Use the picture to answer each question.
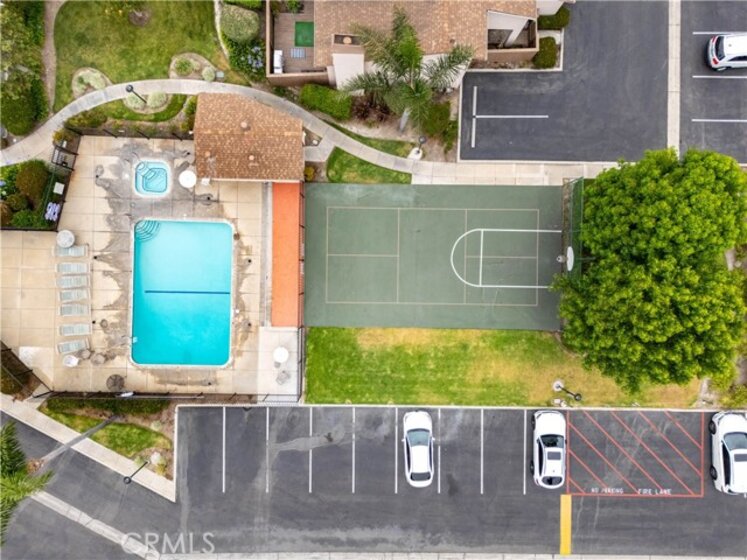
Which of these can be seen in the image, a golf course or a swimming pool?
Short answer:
swimming pool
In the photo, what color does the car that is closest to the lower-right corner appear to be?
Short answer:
white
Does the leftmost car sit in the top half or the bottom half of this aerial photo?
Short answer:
bottom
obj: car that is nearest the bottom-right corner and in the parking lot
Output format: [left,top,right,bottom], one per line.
[708,408,747,495]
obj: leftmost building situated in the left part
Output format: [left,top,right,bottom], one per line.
[193,94,304,184]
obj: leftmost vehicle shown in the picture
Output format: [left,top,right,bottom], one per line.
[400,409,437,491]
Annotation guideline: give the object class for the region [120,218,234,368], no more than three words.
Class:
swimming pool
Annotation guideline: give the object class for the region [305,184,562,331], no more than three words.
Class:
sports court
